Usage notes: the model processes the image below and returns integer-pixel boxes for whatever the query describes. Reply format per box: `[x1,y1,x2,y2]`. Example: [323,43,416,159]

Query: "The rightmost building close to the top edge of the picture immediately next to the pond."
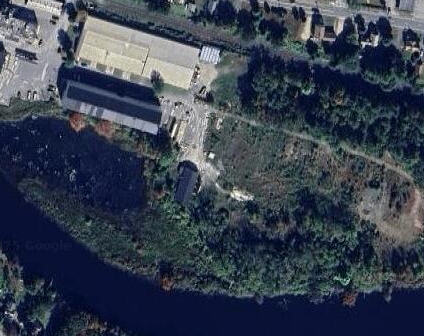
[77,16,200,89]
